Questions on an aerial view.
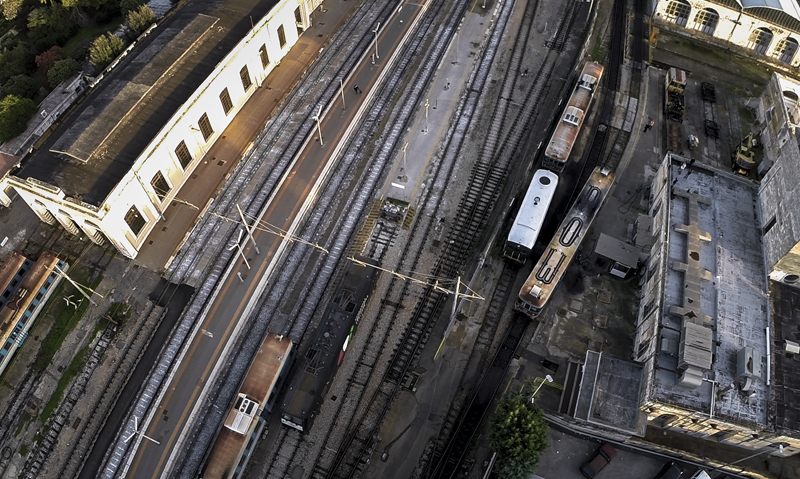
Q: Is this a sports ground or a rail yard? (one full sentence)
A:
The picture captures a rail yard.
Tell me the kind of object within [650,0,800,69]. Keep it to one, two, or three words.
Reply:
building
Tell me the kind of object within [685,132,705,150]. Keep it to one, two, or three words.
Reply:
work vehicle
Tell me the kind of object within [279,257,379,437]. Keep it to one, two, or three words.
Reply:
rail car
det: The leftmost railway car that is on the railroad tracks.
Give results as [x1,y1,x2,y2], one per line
[197,333,298,479]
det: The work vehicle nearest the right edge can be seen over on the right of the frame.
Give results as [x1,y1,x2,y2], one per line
[734,123,764,171]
